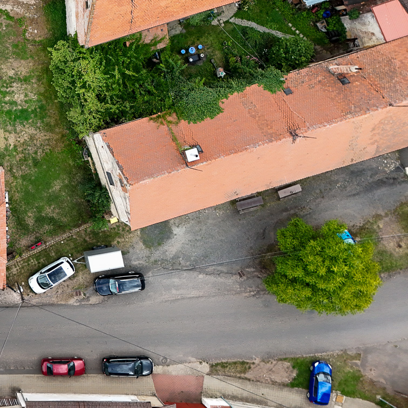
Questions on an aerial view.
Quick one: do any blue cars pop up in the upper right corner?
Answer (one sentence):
No, there is no blue car in the upper right corner.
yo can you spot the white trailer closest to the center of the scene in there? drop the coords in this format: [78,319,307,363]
[76,249,130,276]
